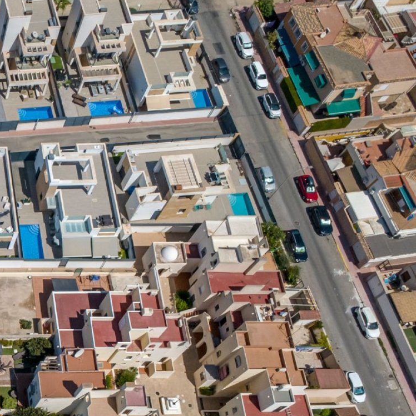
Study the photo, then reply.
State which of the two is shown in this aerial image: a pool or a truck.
pool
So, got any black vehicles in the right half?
Yes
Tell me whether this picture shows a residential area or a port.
residential area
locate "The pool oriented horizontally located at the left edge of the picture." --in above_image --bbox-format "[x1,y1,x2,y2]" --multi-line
[19,105,53,120]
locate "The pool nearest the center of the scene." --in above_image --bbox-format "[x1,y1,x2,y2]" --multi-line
[228,192,255,215]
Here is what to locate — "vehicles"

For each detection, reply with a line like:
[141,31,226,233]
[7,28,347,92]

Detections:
[247,63,268,90]
[295,174,318,203]
[179,0,199,16]
[308,204,333,238]
[234,31,252,59]
[344,371,368,405]
[255,166,276,194]
[352,305,381,341]
[212,58,230,84]
[261,93,282,119]
[285,230,308,264]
